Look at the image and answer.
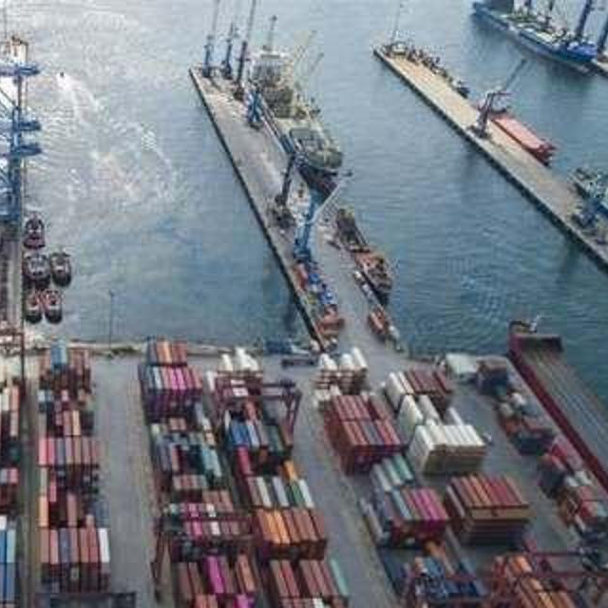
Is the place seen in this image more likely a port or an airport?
port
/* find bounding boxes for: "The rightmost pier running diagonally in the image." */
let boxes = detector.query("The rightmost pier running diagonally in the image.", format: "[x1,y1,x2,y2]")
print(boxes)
[375,43,608,273]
